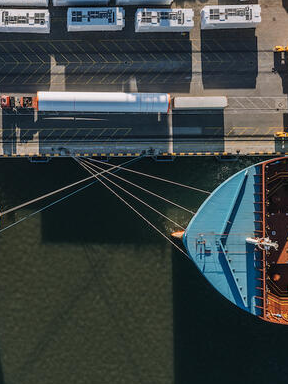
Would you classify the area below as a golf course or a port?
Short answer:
port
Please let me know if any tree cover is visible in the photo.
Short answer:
No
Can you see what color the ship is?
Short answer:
blue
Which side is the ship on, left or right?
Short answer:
right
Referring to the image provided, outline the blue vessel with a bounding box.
[171,157,288,325]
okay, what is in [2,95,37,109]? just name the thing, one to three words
vehicle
